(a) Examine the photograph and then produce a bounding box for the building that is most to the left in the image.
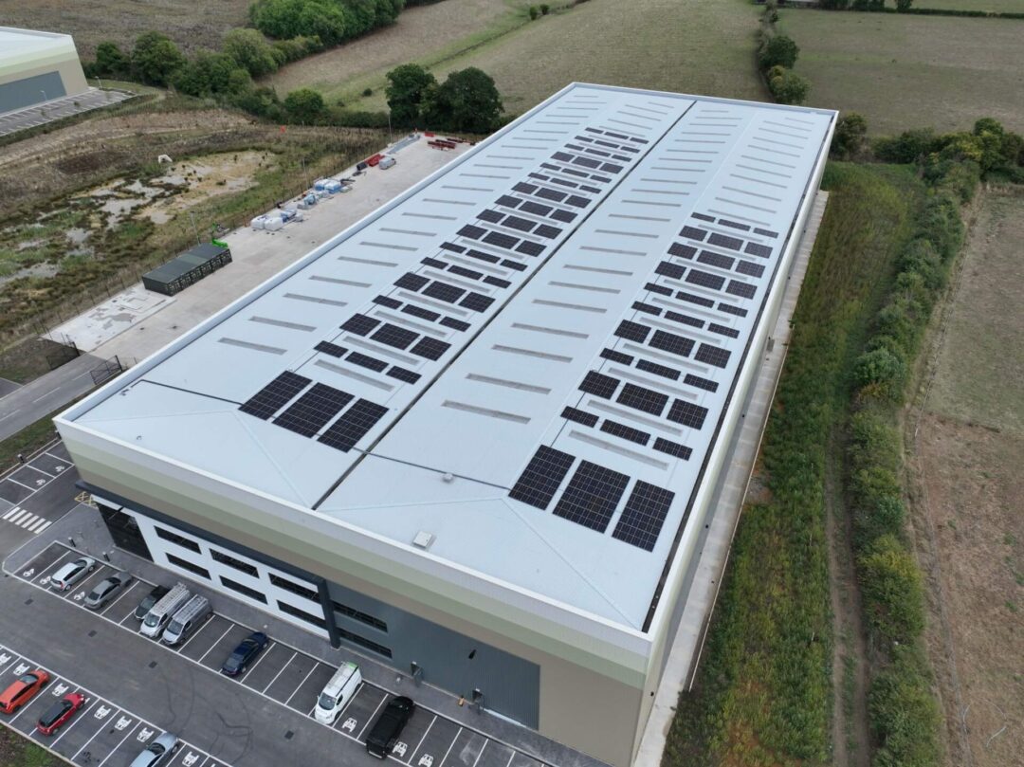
[0,22,91,114]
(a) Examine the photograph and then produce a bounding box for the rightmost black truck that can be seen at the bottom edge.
[356,692,409,761]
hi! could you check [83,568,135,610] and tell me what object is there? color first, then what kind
gray car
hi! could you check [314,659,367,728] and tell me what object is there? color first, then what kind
white van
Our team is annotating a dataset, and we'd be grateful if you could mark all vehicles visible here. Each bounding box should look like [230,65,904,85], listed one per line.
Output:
[137,581,191,641]
[29,688,83,737]
[115,724,175,767]
[127,583,169,623]
[158,591,213,650]
[83,568,135,610]
[219,628,270,678]
[314,659,367,728]
[50,556,97,592]
[356,692,409,761]
[0,666,50,717]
